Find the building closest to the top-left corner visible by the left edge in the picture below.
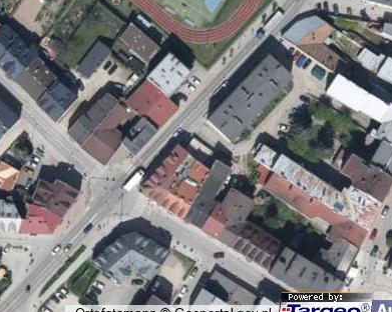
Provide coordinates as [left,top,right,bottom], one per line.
[0,25,39,79]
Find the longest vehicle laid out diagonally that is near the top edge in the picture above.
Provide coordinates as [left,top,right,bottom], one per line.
[258,8,286,38]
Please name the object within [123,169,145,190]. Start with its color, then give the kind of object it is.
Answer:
white vehicle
